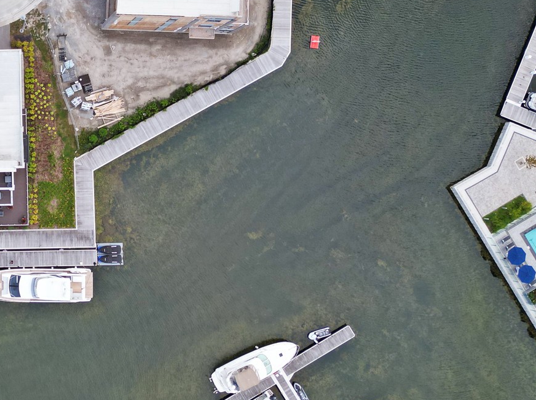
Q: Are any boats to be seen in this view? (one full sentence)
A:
Yes, the image includes a boat.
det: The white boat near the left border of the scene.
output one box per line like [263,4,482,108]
[0,265,92,301]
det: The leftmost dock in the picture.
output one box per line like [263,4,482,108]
[0,249,98,267]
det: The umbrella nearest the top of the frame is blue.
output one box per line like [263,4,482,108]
[504,247,526,265]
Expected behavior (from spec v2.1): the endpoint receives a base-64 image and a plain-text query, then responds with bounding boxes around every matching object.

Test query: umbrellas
[515,265,535,284]
[504,247,526,265]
